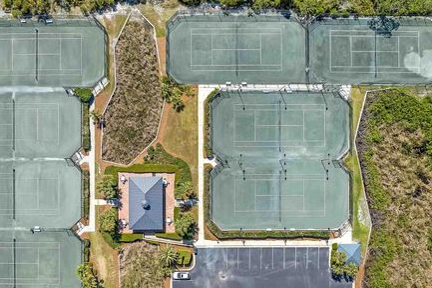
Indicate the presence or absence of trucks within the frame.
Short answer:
No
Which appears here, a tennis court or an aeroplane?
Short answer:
tennis court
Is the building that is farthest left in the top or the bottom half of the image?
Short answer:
bottom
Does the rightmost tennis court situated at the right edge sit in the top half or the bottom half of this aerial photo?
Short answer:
top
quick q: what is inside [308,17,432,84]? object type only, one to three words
tennis court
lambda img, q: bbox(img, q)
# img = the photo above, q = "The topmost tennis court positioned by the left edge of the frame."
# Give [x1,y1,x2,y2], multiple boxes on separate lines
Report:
[0,20,105,91]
